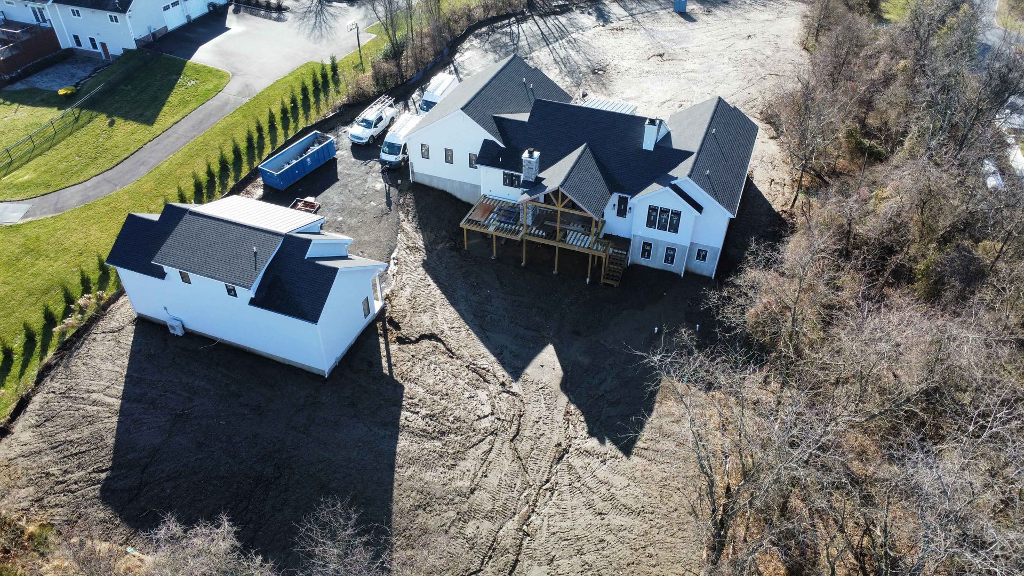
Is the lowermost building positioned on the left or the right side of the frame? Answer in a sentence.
The lowermost building is on the left side of the image.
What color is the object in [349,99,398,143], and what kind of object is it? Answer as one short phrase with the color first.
white truck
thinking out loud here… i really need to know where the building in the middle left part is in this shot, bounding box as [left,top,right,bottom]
[101,194,388,379]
